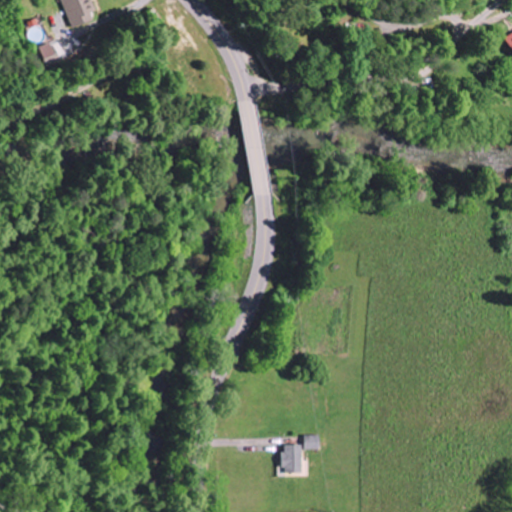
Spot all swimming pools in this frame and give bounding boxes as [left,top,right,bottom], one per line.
[26,25,44,44]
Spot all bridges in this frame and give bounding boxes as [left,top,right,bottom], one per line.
[230,91,278,203]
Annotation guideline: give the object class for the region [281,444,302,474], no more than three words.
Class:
house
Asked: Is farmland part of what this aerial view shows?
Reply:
Yes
